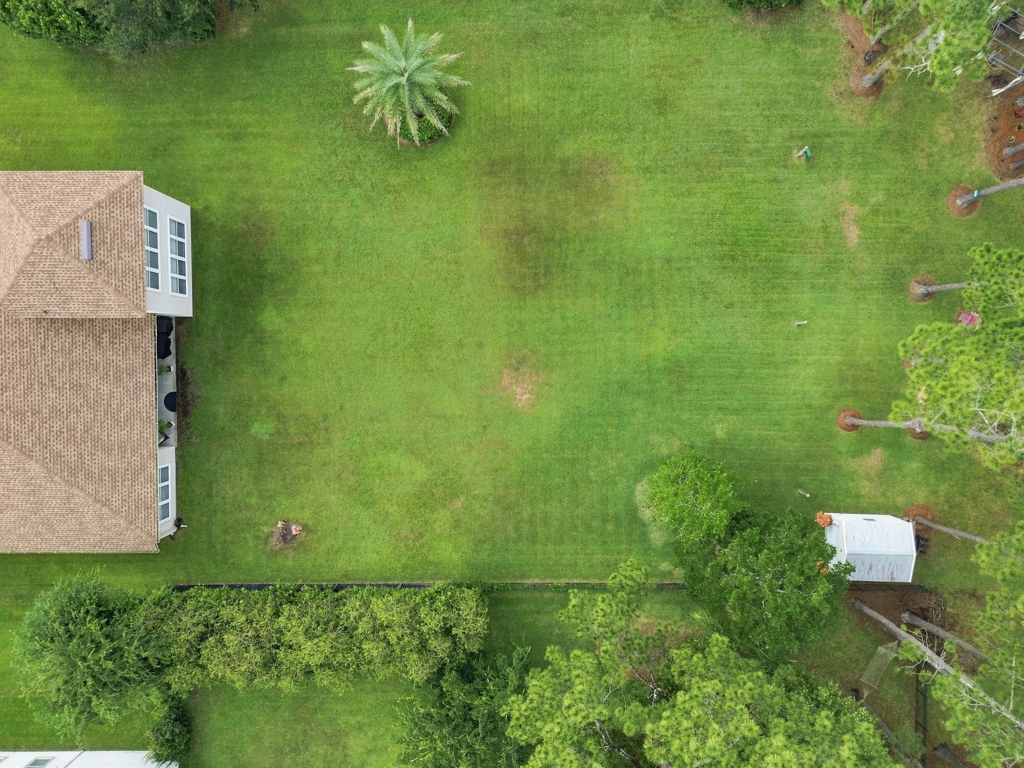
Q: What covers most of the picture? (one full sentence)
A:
Most of the picture is covered by grass.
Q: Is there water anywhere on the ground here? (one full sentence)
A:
No, there is no water in the image.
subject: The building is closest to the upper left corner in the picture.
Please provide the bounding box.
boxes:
[0,170,193,553]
